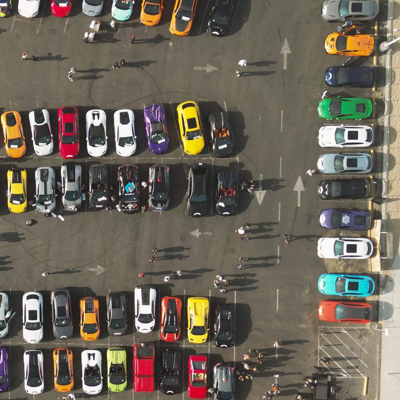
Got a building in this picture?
No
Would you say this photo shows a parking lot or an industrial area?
parking lot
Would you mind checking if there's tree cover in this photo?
No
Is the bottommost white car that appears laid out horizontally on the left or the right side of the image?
right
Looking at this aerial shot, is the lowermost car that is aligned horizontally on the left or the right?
right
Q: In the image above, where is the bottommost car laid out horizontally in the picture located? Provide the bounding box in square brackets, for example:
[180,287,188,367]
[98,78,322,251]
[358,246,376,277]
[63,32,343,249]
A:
[318,300,373,324]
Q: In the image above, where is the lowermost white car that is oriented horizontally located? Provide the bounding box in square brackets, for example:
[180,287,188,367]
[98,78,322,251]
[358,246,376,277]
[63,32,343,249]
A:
[318,236,373,259]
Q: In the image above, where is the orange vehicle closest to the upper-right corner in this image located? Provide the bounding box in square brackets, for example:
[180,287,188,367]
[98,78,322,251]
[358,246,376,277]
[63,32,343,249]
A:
[325,33,375,56]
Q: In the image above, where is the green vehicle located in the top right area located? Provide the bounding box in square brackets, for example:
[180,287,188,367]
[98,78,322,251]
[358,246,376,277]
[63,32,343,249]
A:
[321,96,369,119]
